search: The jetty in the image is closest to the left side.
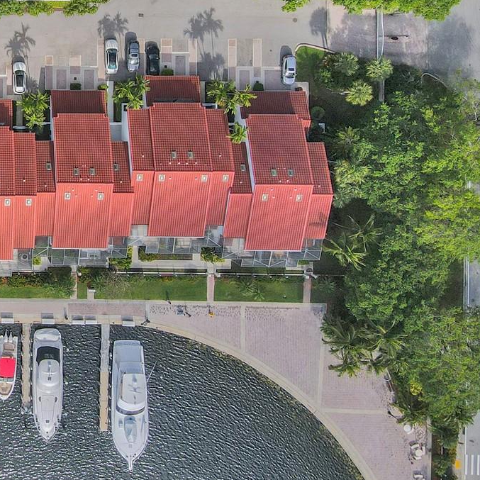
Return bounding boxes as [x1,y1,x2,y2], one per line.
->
[19,323,33,413]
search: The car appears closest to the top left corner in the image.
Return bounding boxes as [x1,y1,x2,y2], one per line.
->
[12,62,27,93]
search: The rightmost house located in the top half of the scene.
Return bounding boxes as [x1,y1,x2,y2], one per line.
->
[228,91,334,267]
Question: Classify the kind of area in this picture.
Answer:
residential area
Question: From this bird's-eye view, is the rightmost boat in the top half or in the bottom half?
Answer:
bottom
